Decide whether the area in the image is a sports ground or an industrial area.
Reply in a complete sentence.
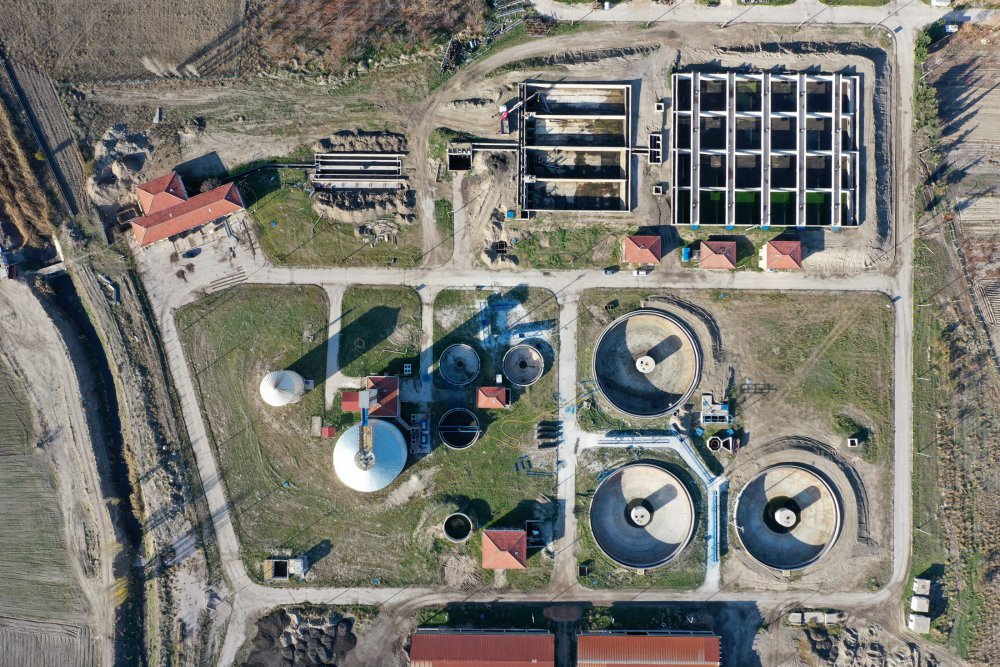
The area seen from above is an industrial area.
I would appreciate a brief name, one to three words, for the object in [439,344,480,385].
storage tank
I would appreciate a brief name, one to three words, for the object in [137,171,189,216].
building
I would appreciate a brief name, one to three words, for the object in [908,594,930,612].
building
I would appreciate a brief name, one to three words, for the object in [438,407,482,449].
storage tank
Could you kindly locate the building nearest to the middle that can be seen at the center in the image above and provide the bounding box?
[478,387,506,408]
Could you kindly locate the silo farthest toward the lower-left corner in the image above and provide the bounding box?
[259,370,304,408]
